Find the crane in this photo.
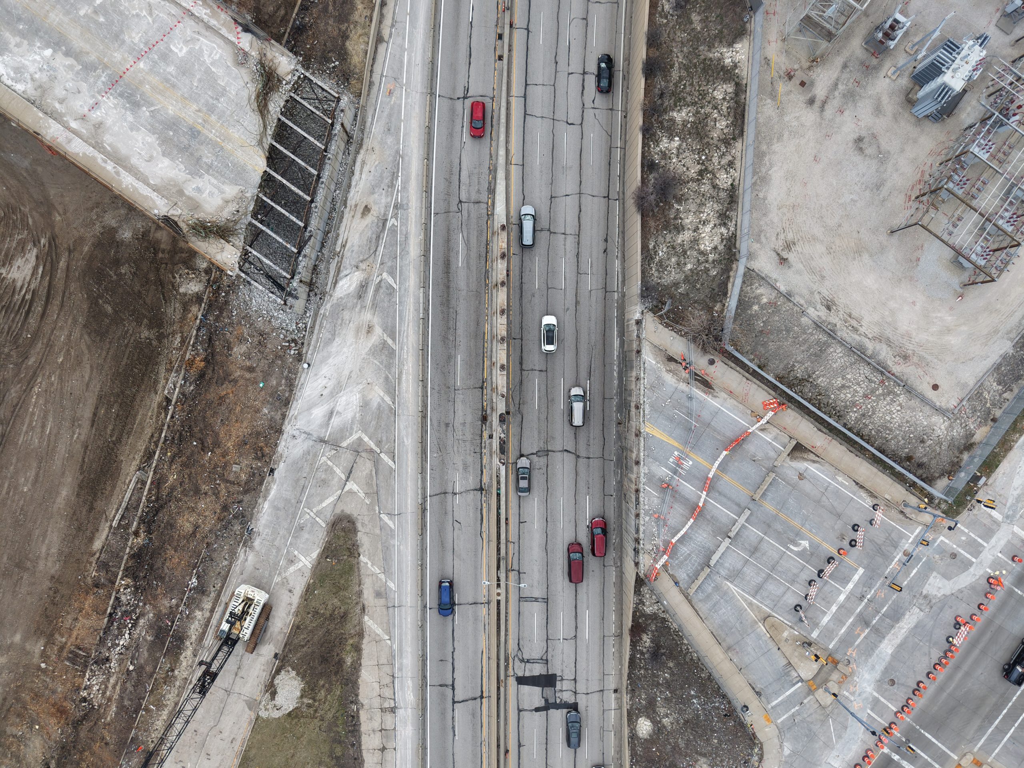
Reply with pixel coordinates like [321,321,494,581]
[131,583,281,768]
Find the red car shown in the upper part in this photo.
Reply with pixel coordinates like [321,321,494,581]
[468,98,486,137]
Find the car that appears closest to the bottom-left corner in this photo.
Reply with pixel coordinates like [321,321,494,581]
[436,580,453,617]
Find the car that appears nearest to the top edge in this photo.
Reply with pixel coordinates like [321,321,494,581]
[596,51,615,93]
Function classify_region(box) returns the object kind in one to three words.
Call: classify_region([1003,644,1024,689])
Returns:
truck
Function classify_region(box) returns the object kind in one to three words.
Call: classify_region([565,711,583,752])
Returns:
car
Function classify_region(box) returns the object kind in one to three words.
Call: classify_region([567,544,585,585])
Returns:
vehicle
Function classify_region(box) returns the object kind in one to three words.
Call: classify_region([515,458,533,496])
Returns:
car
